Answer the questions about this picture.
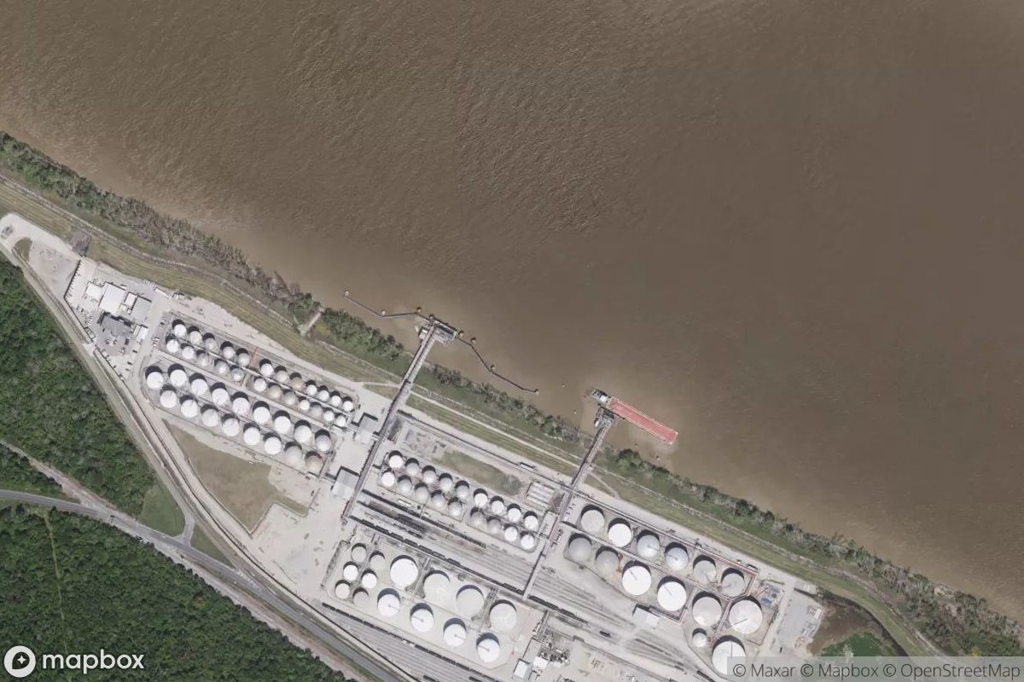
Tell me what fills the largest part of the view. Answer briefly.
water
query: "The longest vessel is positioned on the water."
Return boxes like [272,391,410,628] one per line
[606,397,677,444]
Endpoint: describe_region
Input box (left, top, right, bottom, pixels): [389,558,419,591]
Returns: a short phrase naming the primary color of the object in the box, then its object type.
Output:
white storage tank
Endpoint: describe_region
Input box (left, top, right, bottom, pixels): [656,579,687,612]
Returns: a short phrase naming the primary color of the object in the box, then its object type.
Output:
white storage tank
